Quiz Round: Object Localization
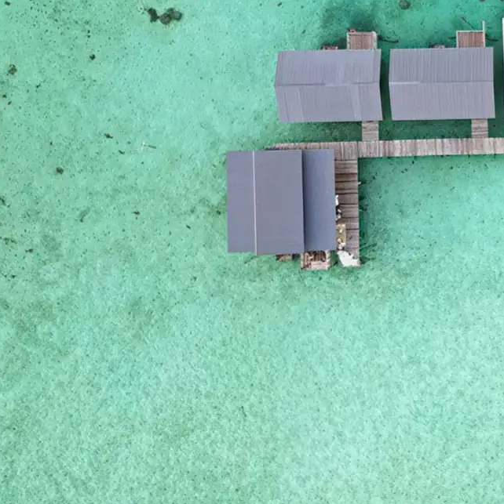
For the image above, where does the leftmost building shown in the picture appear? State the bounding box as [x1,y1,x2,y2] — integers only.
[228,148,337,255]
